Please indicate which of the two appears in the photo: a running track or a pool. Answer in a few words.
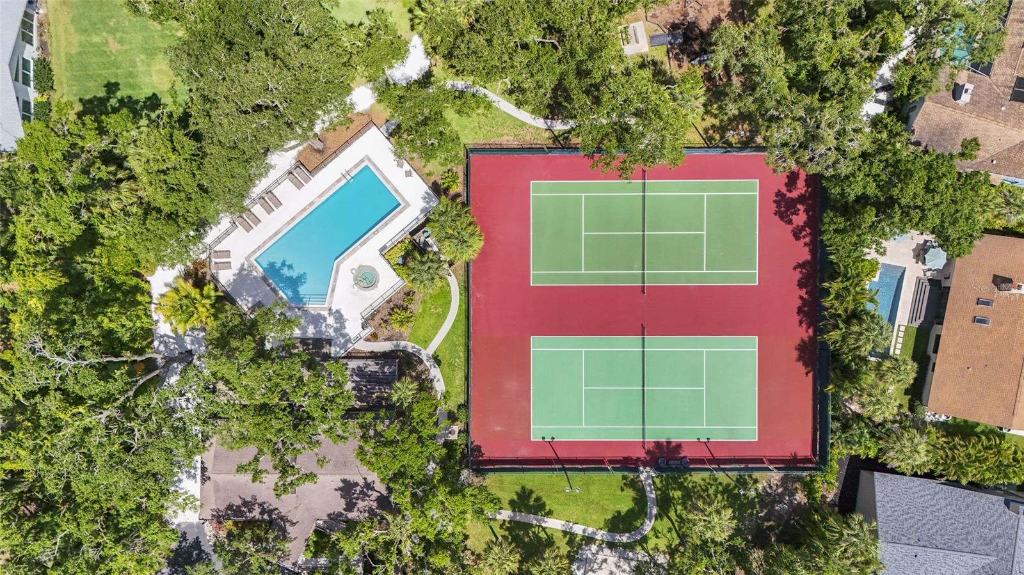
pool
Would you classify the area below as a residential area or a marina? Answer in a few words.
residential area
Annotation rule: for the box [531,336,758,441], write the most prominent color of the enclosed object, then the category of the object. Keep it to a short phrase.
green tennis court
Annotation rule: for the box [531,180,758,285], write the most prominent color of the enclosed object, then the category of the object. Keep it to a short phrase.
green tennis court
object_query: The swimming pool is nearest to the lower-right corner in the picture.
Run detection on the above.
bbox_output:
[869,263,905,356]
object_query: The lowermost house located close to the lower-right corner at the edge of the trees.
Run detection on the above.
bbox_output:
[861,467,1024,575]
